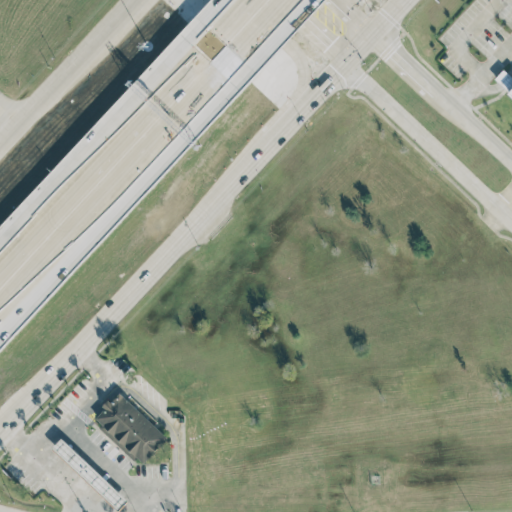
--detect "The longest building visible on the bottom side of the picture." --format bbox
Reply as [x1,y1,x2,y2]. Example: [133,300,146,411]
[96,394,166,464]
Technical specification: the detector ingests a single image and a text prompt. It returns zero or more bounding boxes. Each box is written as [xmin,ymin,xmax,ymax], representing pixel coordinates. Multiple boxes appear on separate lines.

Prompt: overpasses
[195,0,324,74]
